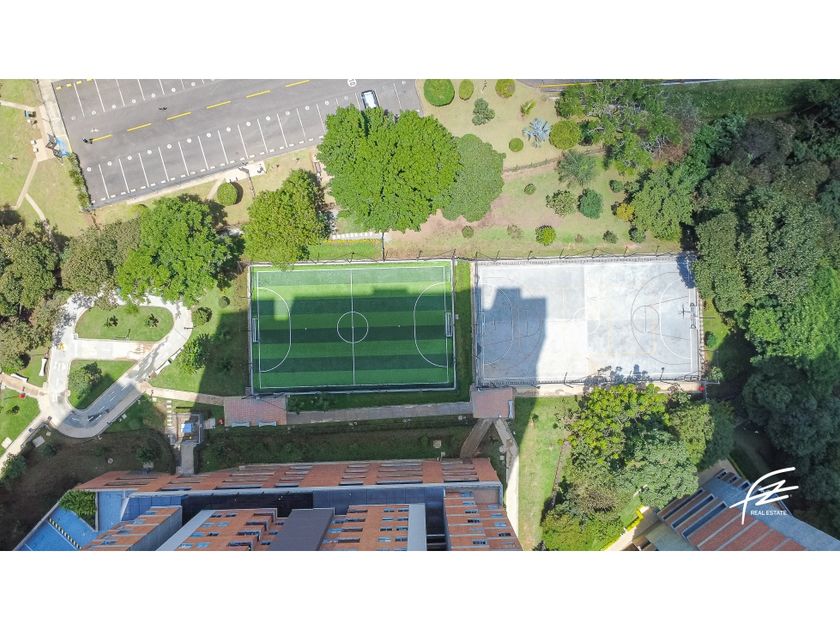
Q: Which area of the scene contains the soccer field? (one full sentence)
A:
You can find the soccer field in the center area of the picture.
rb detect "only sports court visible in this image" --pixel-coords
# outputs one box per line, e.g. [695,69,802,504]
[473,253,701,388]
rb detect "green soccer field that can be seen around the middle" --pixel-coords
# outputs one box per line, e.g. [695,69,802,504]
[249,259,458,393]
